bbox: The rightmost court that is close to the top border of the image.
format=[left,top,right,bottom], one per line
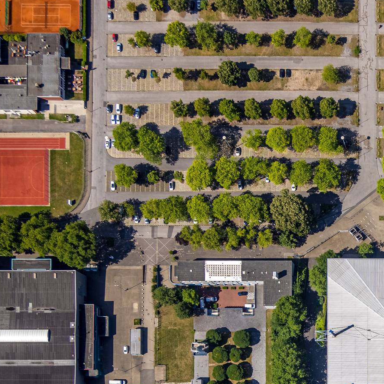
[19,1,73,29]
